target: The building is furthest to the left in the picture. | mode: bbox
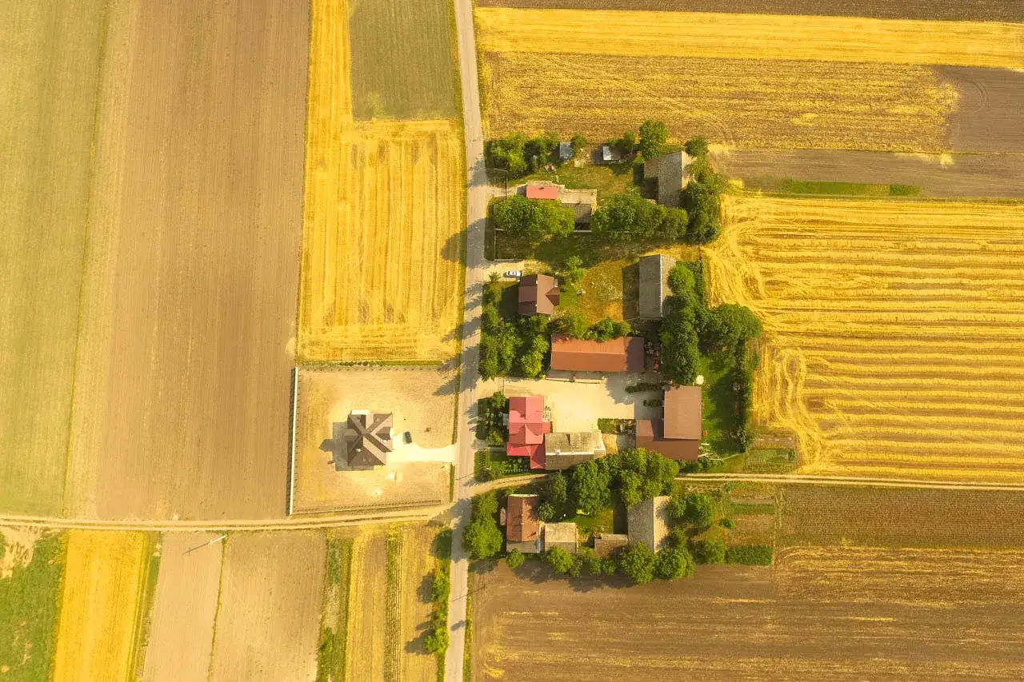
[342,410,392,465]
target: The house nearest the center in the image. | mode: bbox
[518,275,559,315]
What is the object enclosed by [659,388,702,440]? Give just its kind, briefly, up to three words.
barn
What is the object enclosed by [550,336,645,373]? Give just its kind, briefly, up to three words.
barn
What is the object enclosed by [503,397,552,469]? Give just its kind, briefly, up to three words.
house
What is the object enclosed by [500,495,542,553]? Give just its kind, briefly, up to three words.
house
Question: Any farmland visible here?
Yes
